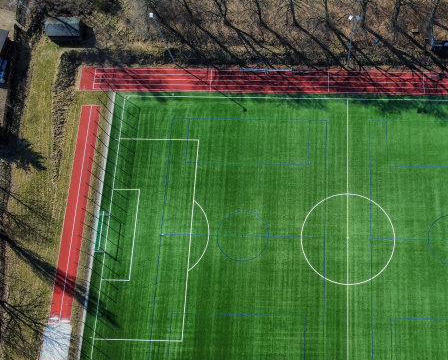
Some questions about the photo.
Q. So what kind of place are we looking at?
sports ground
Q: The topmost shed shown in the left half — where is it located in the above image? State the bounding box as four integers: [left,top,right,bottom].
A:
[45,16,84,44]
